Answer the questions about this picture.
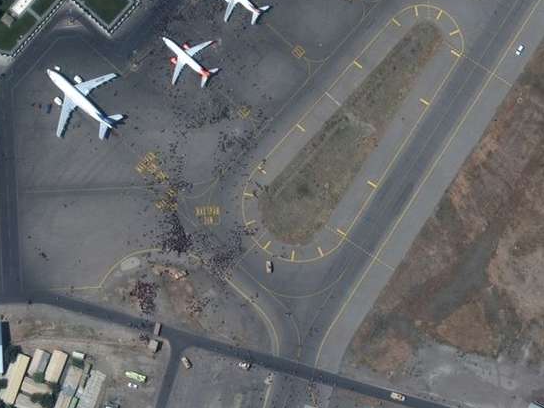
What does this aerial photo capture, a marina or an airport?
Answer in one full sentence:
This image shows an airport.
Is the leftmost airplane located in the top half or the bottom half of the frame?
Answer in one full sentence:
The top half of the photo is where the leftmost airplane is.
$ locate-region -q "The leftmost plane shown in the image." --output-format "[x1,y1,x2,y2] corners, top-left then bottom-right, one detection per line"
[47,69,126,139]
